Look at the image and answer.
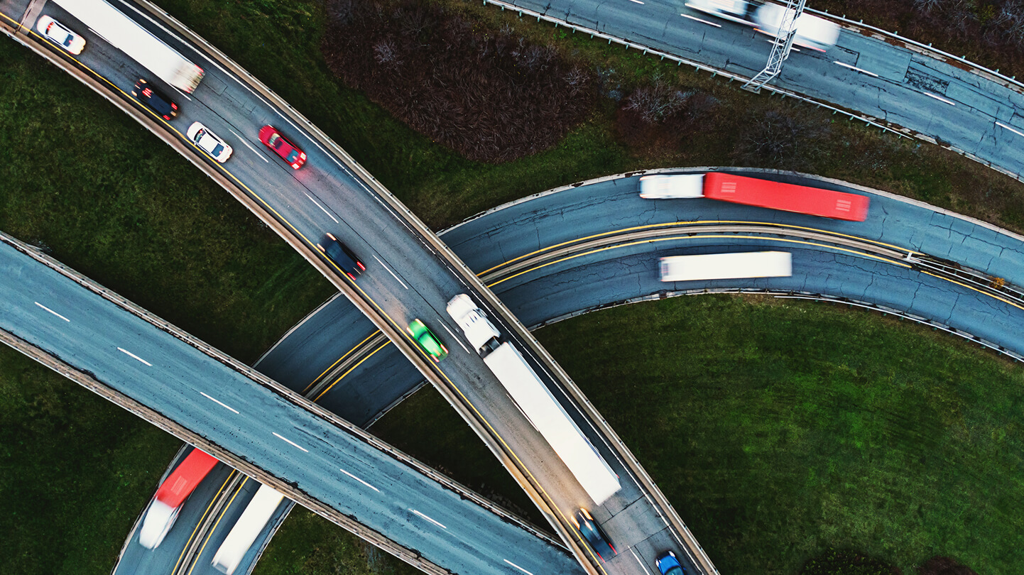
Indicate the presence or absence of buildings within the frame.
No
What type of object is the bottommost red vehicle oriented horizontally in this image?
truck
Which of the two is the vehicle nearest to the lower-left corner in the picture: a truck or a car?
truck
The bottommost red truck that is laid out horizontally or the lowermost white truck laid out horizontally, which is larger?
the bottommost red truck that is laid out horizontally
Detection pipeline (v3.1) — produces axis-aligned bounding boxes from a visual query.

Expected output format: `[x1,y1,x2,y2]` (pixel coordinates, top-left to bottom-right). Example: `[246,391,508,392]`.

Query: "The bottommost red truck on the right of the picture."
[640,170,866,225]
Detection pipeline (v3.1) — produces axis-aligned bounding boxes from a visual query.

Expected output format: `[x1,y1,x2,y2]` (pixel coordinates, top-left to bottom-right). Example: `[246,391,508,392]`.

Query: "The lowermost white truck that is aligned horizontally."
[661,250,787,281]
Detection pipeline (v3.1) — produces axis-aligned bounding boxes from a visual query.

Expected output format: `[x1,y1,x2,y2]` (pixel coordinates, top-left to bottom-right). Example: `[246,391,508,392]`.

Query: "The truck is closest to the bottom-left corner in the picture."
[137,448,218,551]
